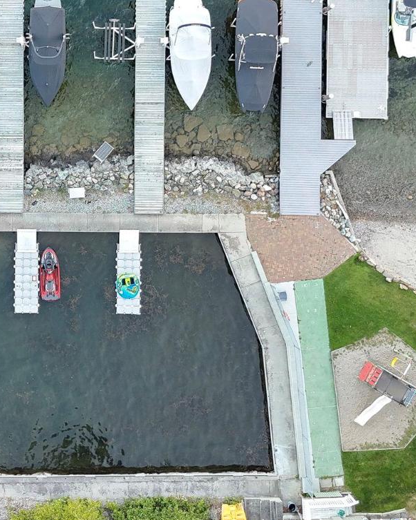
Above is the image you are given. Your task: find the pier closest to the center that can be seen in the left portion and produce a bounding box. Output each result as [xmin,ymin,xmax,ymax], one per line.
[115,230,144,316]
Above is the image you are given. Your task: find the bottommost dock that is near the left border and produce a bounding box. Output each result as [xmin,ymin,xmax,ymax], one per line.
[12,230,42,314]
